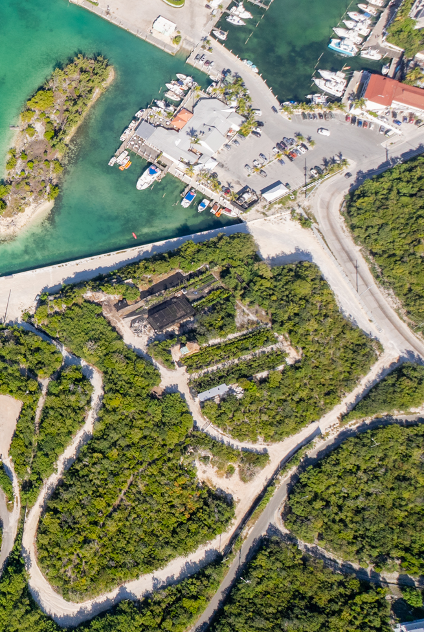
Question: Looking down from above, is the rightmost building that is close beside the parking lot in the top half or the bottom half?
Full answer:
You can find the rightmost building that is close beside the parking lot in the top half.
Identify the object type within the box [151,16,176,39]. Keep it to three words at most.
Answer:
house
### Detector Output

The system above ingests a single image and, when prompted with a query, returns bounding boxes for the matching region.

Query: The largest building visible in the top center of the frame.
[144,99,246,169]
